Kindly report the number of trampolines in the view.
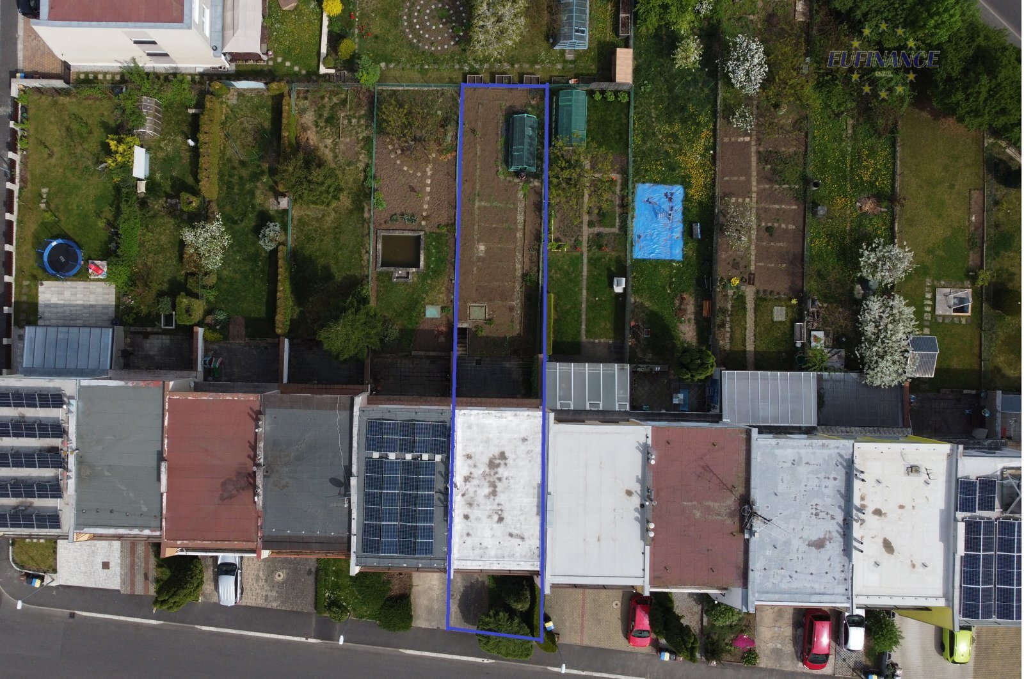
one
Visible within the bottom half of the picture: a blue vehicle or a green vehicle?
green vehicle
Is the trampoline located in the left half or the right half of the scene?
left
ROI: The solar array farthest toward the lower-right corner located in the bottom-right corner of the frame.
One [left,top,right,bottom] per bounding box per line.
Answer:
[958,519,1024,621]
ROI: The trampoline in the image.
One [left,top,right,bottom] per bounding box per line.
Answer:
[32,235,87,283]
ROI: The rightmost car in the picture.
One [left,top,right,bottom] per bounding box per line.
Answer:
[933,624,971,664]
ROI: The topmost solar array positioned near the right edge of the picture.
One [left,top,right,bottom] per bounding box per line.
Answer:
[958,478,997,512]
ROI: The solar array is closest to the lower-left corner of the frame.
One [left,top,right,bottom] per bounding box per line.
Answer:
[0,390,68,529]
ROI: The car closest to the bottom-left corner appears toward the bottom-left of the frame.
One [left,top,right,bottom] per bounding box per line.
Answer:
[215,557,244,606]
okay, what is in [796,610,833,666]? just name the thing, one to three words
car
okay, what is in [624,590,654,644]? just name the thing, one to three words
car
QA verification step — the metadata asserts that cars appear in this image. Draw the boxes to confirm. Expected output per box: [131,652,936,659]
[16,0,40,28]
[215,557,244,606]
[835,610,867,652]
[624,590,654,644]
[933,624,971,664]
[796,610,833,666]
